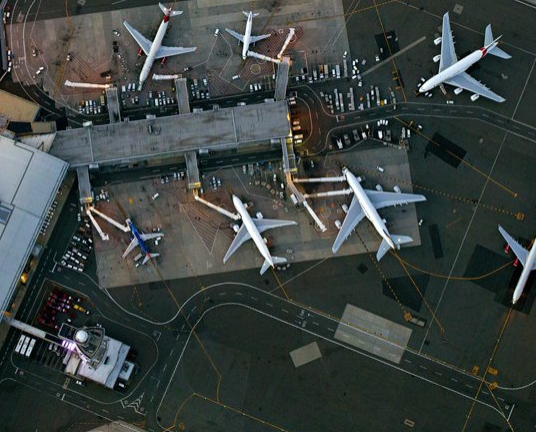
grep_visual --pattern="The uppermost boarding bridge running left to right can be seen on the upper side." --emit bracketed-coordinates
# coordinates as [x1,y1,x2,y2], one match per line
[246,51,282,65]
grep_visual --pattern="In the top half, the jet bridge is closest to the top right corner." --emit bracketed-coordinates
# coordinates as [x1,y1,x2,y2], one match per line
[277,27,295,61]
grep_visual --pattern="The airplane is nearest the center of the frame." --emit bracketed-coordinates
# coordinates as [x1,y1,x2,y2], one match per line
[224,195,297,274]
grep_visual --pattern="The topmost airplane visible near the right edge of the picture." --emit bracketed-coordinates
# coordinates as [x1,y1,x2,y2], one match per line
[419,16,512,104]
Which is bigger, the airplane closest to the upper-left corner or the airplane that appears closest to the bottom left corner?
the airplane closest to the upper-left corner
